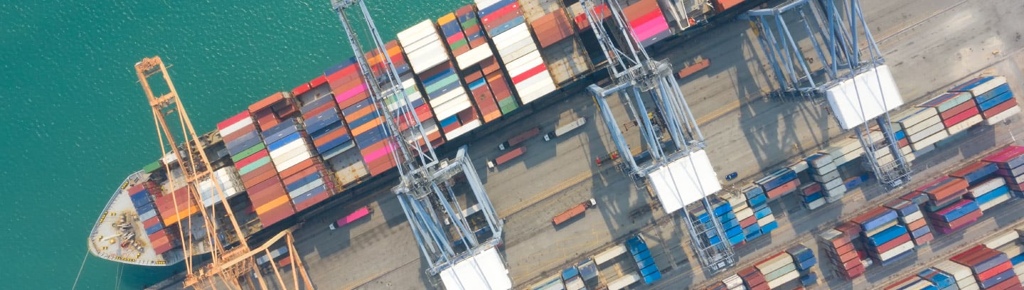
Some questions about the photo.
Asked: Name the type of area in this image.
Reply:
port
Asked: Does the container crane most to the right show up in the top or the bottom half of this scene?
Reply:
top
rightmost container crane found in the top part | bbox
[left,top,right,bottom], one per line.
[727,0,916,194]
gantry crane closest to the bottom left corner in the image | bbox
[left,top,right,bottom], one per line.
[132,58,351,290]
